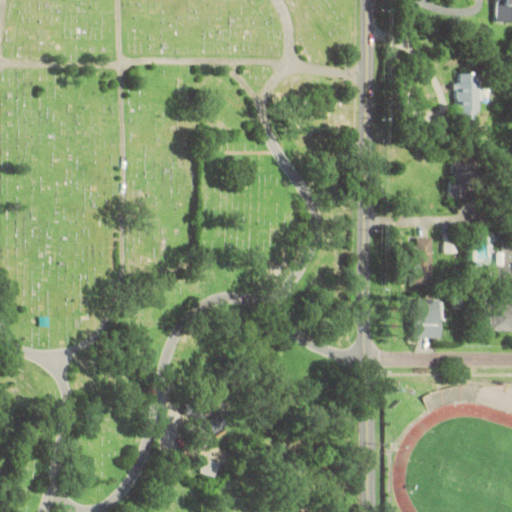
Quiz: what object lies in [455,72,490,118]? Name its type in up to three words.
house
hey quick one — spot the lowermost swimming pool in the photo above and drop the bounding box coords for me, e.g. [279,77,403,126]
[472,236,494,264]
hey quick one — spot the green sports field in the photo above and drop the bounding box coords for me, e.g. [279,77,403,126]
[407,418,512,512]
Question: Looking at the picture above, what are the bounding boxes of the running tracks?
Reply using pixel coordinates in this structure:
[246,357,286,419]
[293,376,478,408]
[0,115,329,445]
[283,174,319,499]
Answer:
[393,404,512,512]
